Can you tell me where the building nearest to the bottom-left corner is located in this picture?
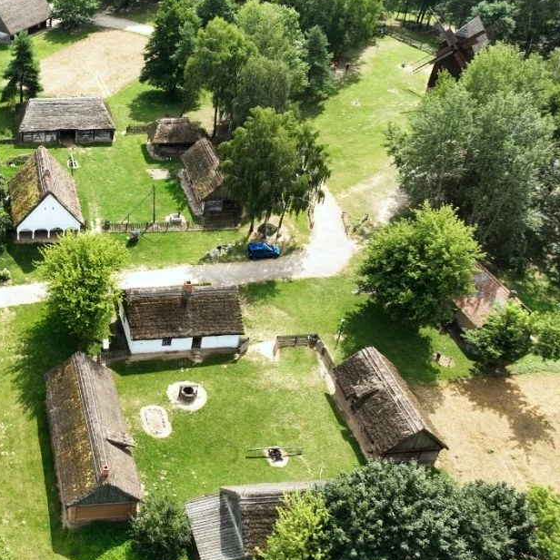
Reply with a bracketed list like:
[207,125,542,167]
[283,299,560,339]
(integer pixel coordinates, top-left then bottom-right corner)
[42,348,142,530]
